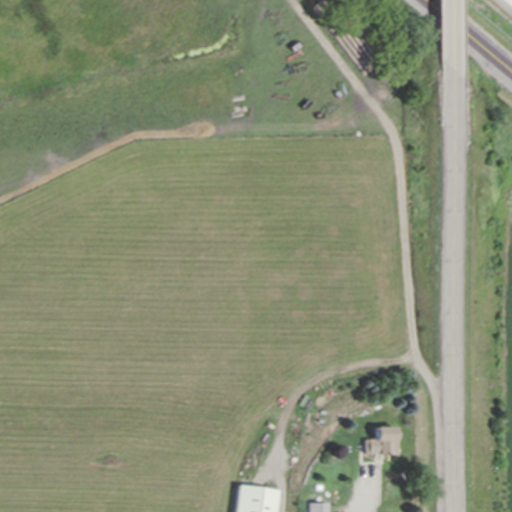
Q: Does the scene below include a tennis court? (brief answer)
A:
No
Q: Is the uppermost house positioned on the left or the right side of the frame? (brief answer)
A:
right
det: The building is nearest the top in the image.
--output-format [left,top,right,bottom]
[366,428,404,456]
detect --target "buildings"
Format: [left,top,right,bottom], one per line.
[366,428,404,456]
[308,503,330,512]
[238,486,283,512]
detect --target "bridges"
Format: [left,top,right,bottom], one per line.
[444,0,470,76]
